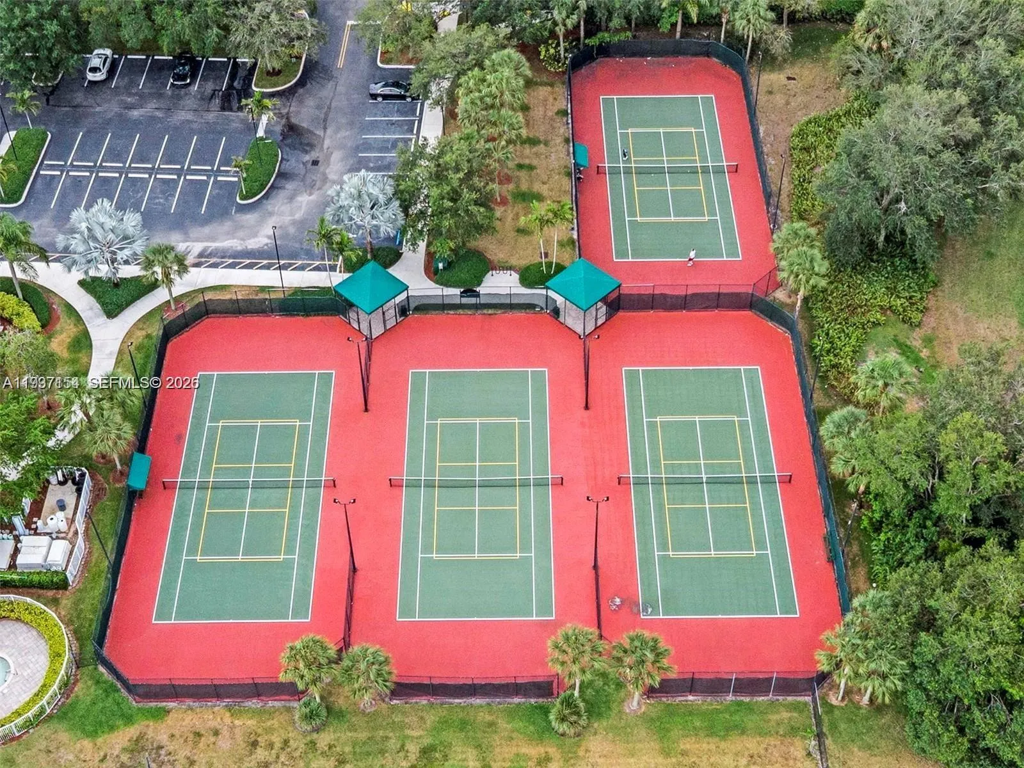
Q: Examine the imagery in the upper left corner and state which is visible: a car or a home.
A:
car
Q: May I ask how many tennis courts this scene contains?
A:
four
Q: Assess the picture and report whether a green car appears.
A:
No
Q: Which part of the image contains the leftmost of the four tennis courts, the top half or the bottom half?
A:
bottom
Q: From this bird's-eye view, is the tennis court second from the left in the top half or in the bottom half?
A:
bottom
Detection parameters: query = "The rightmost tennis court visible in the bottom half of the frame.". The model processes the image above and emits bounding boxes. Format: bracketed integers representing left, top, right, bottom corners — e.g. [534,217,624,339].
[584,312,844,696]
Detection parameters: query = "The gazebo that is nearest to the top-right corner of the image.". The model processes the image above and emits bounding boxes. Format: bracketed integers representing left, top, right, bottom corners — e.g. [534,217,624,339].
[545,258,623,337]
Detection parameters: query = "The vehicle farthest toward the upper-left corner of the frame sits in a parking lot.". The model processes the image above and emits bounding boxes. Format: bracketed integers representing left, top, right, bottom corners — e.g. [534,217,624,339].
[87,48,115,78]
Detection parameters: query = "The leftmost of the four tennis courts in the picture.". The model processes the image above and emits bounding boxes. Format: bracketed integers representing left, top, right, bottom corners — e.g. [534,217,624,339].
[102,316,370,701]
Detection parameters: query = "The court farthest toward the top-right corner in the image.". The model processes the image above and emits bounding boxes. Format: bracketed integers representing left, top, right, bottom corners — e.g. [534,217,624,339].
[569,57,780,313]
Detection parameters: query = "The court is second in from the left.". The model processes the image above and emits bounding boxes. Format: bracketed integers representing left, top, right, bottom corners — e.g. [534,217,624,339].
[351,314,599,699]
